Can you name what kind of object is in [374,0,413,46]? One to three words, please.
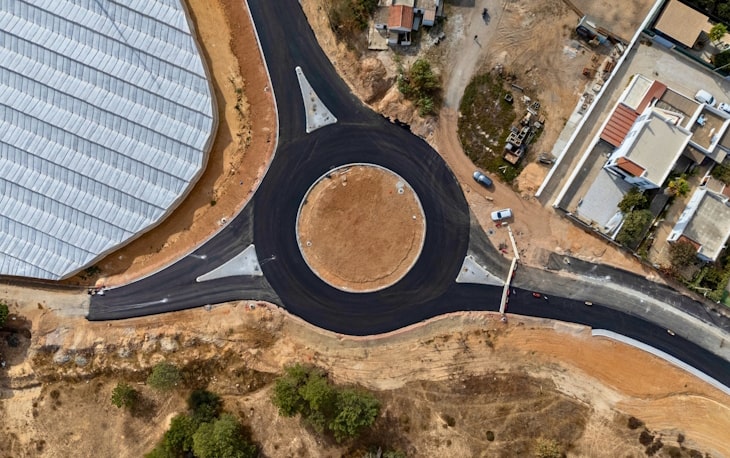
house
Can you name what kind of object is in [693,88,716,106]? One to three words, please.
vehicle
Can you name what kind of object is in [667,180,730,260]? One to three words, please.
house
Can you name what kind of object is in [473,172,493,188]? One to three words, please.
car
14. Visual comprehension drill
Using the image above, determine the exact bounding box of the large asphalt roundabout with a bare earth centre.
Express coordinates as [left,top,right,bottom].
[253,121,469,337]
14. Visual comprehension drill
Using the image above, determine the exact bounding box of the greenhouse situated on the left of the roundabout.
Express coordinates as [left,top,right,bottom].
[0,0,217,280]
